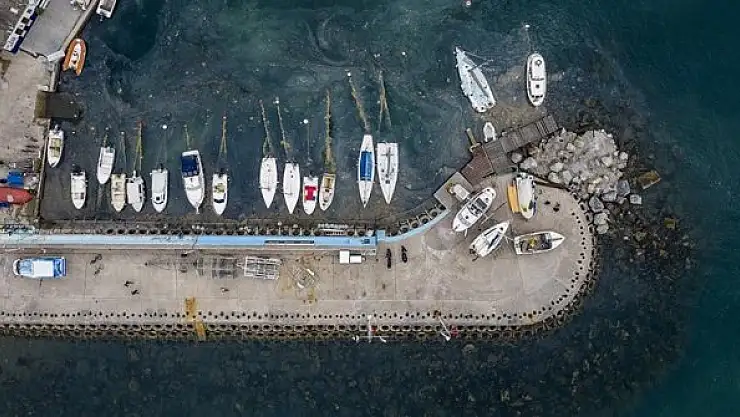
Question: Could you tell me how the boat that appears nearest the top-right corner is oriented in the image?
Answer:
from top to bottom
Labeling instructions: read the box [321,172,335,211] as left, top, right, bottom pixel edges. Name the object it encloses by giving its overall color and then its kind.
white boat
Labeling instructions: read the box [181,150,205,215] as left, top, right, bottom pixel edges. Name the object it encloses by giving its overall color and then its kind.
white boat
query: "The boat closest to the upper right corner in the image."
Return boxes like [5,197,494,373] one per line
[526,53,547,106]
